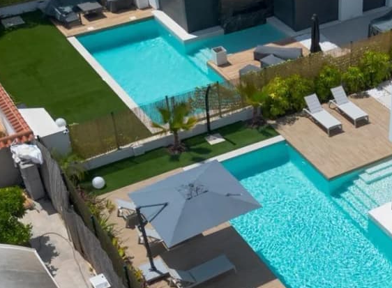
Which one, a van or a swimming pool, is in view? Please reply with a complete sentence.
The one in the frame is a swimming pool.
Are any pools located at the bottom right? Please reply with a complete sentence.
Yes, the scene does show a pool at the bottom right.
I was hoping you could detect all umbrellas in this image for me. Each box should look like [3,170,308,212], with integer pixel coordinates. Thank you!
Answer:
[298,9,328,60]
[127,160,268,277]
